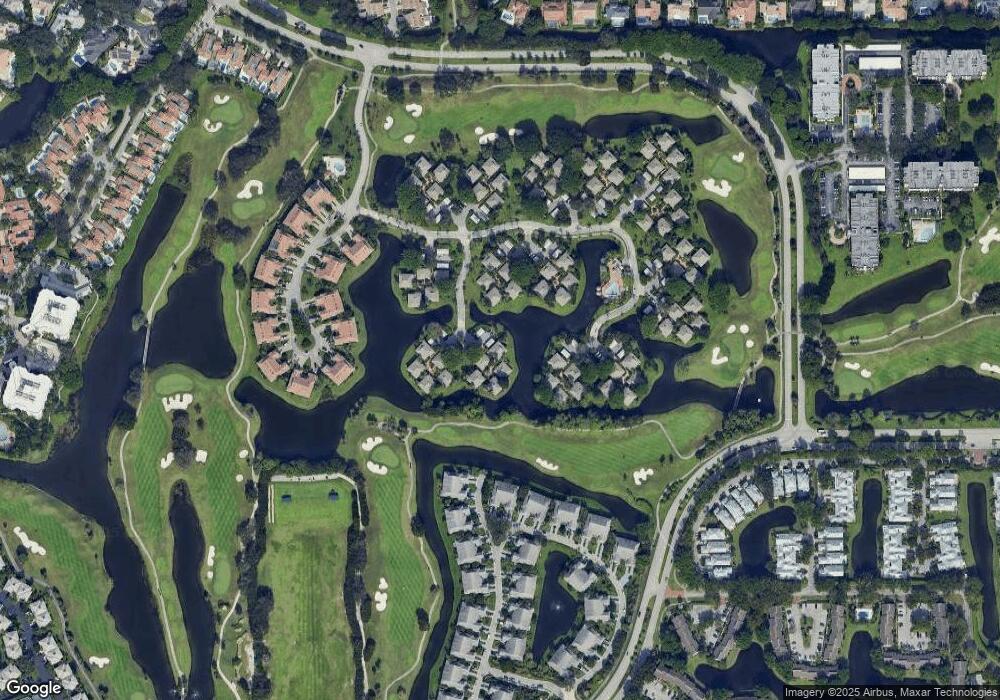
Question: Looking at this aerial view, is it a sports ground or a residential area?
residential area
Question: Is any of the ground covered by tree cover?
Yes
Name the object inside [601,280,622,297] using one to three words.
swimming pool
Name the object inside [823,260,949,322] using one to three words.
pond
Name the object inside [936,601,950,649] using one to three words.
building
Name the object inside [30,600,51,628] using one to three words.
house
